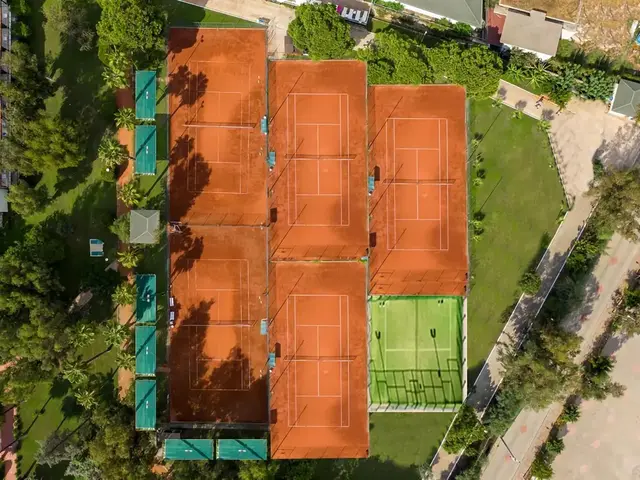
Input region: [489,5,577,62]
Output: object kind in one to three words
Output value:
house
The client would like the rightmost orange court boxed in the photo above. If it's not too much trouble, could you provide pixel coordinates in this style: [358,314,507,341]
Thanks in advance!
[368,85,468,295]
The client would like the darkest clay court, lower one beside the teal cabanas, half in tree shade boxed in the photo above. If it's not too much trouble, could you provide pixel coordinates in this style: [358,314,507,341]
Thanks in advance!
[168,225,268,424]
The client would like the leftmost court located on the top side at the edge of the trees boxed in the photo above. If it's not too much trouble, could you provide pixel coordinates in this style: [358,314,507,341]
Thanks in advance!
[168,28,268,225]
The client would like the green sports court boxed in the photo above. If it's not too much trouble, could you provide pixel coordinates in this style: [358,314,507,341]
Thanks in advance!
[369,296,468,412]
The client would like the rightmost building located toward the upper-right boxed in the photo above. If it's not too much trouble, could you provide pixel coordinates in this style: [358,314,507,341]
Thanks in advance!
[601,79,640,127]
